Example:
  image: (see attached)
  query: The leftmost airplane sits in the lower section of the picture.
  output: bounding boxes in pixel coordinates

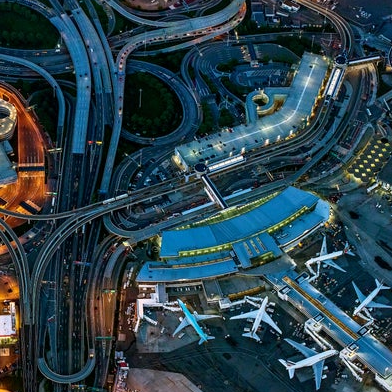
[176,300,217,345]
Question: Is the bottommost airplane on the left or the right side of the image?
right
